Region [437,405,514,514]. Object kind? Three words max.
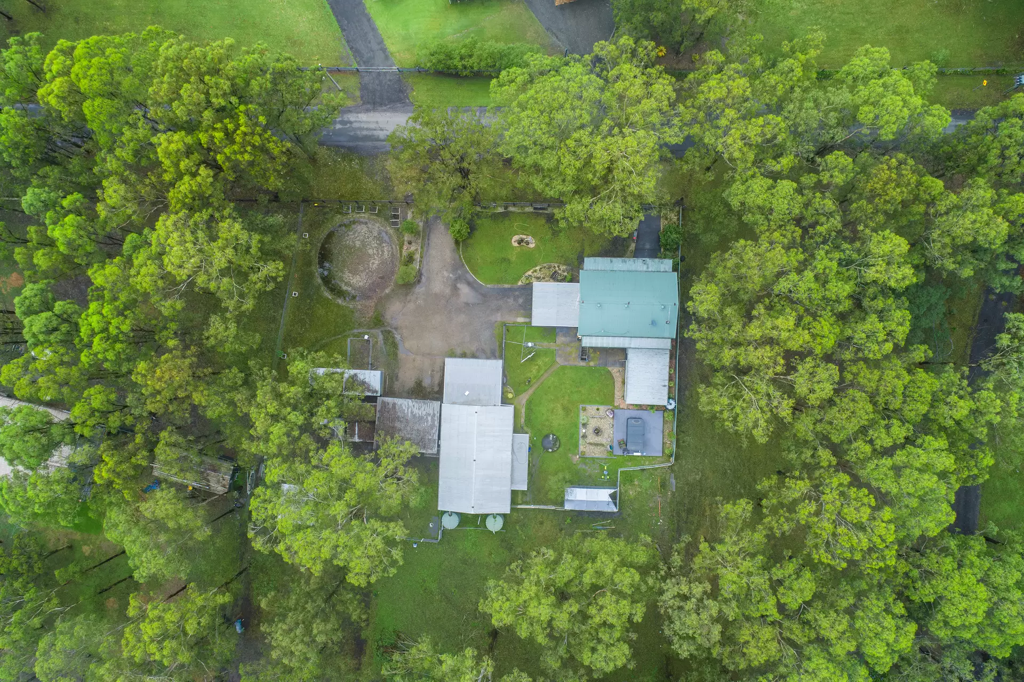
shed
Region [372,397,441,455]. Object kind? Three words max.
barn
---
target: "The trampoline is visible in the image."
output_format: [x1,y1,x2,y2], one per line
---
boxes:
[542,434,559,451]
